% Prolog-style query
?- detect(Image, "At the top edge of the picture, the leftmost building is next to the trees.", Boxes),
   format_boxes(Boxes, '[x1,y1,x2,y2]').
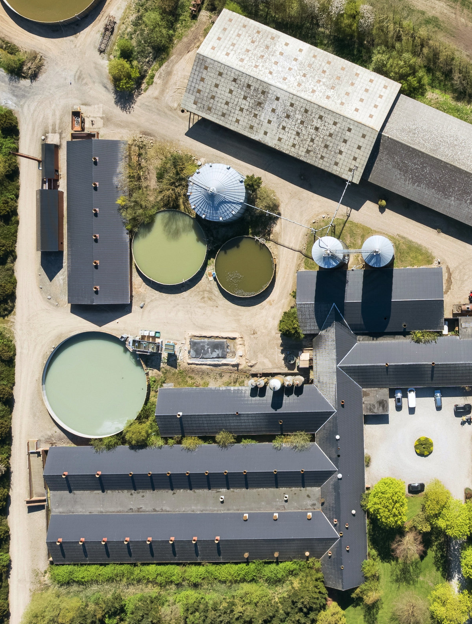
[182,8,401,183]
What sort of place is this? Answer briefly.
industrial area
